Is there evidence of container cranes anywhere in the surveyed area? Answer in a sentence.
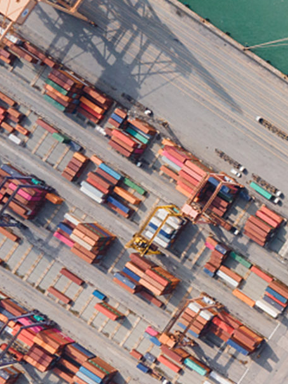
Yes, the image includes a container crane.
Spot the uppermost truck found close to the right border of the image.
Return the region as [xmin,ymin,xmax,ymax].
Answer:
[257,117,288,139]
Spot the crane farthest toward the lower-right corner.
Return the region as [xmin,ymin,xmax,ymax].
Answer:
[157,292,220,350]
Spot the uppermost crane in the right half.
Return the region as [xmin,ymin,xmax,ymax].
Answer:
[180,172,242,227]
